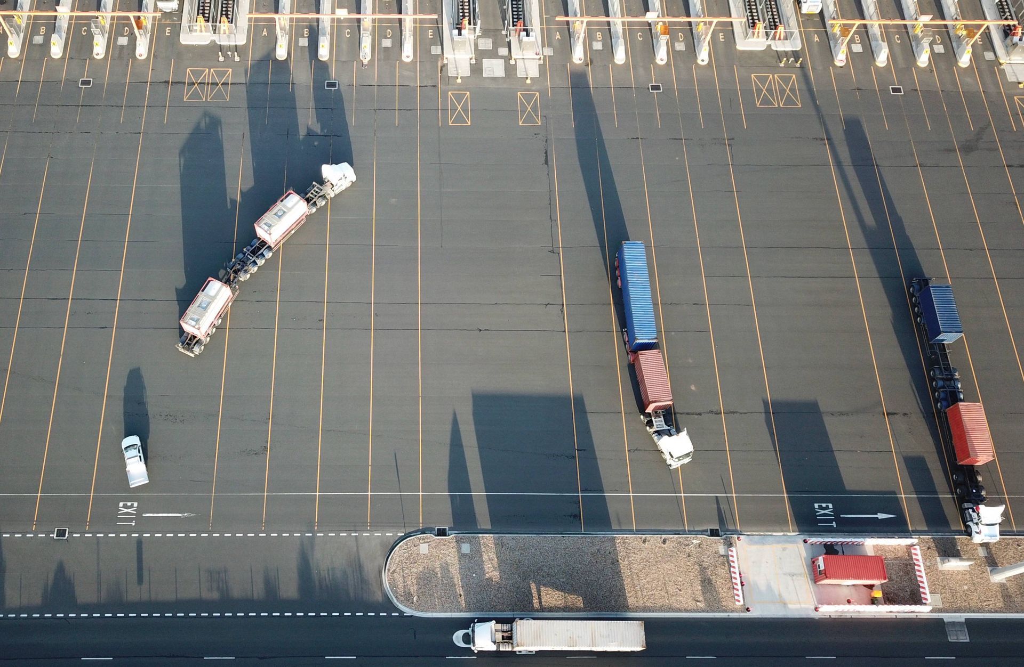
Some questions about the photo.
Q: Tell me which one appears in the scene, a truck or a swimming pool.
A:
truck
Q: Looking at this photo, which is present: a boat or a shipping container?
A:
shipping container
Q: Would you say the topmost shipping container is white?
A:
Yes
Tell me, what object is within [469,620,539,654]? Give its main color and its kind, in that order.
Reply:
white truck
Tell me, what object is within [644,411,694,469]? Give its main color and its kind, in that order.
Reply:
white truck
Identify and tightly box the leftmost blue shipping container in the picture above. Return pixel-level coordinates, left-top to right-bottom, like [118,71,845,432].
[618,241,659,350]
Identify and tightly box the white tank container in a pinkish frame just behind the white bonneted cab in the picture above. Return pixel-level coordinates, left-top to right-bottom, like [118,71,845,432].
[255,190,308,247]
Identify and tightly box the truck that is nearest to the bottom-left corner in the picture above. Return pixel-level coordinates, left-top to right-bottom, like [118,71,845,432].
[123,438,149,489]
